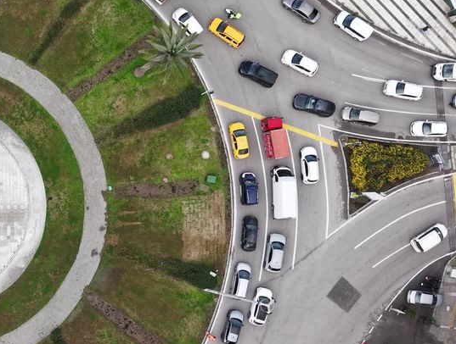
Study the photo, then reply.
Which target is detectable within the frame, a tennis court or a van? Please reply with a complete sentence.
Looking from above, you can make out a van.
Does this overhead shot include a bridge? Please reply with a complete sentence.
No, the picture doesn't show any bridge.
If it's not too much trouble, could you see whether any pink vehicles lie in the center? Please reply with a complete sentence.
Yes, a pink vehicle is visible in the center.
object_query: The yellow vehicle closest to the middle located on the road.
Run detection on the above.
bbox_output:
[227,122,250,160]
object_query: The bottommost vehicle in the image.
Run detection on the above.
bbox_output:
[222,308,245,344]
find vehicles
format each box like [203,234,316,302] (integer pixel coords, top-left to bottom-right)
[236,60,280,89]
[298,145,320,184]
[403,288,442,307]
[330,10,376,42]
[240,215,260,251]
[408,119,449,138]
[381,79,424,102]
[267,165,298,219]
[222,308,245,344]
[227,122,250,160]
[258,117,292,161]
[279,0,322,25]
[264,232,287,272]
[405,222,451,254]
[338,105,381,126]
[423,283,444,290]
[427,61,456,83]
[291,93,338,119]
[207,16,248,51]
[171,6,207,40]
[239,170,259,205]
[247,285,274,327]
[230,261,252,298]
[278,48,321,77]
